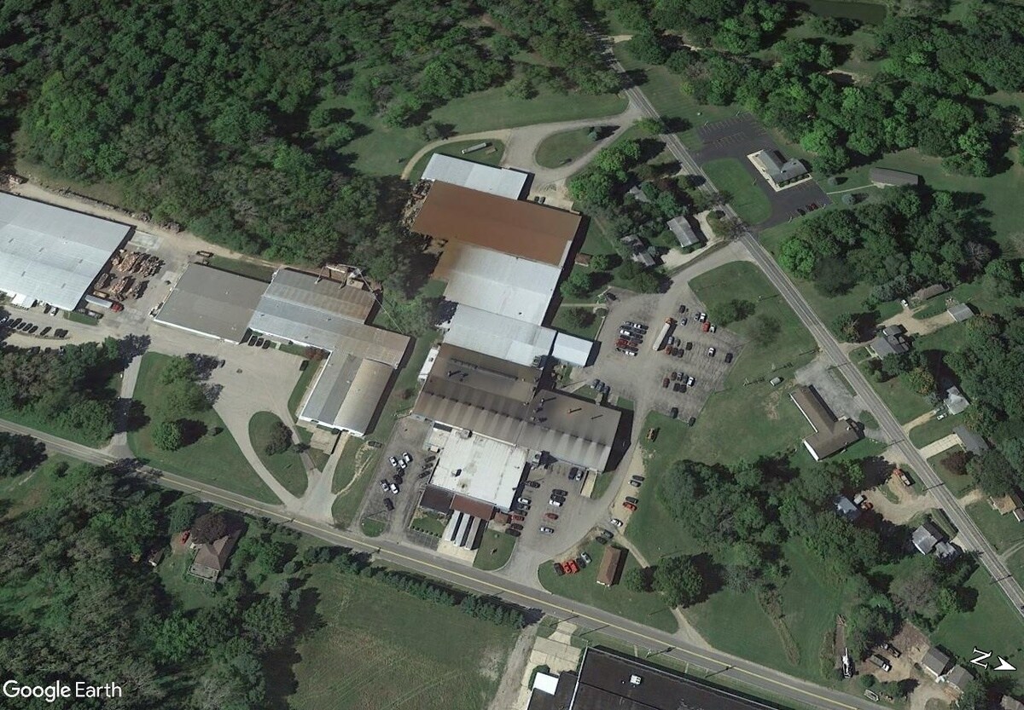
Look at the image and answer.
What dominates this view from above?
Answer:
trees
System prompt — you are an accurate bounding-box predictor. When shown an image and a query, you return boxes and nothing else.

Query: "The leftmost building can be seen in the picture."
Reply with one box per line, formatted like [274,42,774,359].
[0,193,131,311]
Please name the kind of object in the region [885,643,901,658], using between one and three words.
vehicle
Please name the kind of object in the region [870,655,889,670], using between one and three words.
vehicle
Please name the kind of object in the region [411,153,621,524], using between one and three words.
building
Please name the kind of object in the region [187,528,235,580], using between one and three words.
house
